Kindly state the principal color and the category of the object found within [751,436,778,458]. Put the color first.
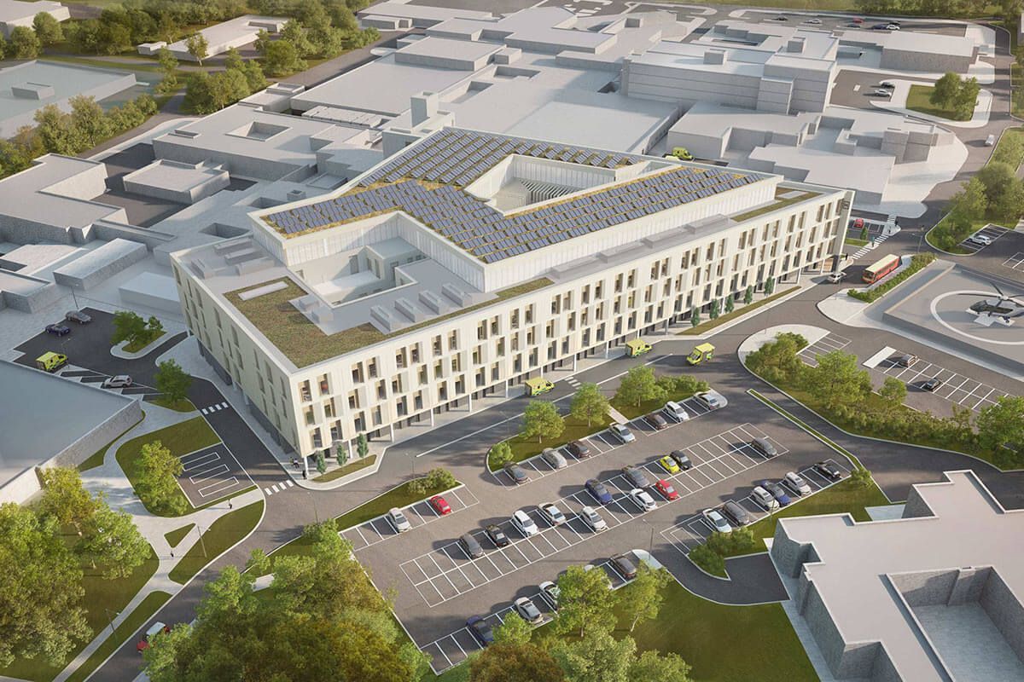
gray car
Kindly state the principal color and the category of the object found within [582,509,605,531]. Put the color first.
white car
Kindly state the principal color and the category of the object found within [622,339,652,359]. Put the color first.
yellow vehicle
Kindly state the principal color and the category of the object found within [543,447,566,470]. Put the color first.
gray car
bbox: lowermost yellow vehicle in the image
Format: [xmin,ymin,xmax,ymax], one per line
[658,455,680,475]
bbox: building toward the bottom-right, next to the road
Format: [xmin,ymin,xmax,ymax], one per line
[773,471,1024,682]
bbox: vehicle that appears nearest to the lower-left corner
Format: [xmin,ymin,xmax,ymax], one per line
[138,618,170,651]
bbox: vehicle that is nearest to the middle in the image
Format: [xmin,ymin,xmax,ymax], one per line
[521,377,555,399]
